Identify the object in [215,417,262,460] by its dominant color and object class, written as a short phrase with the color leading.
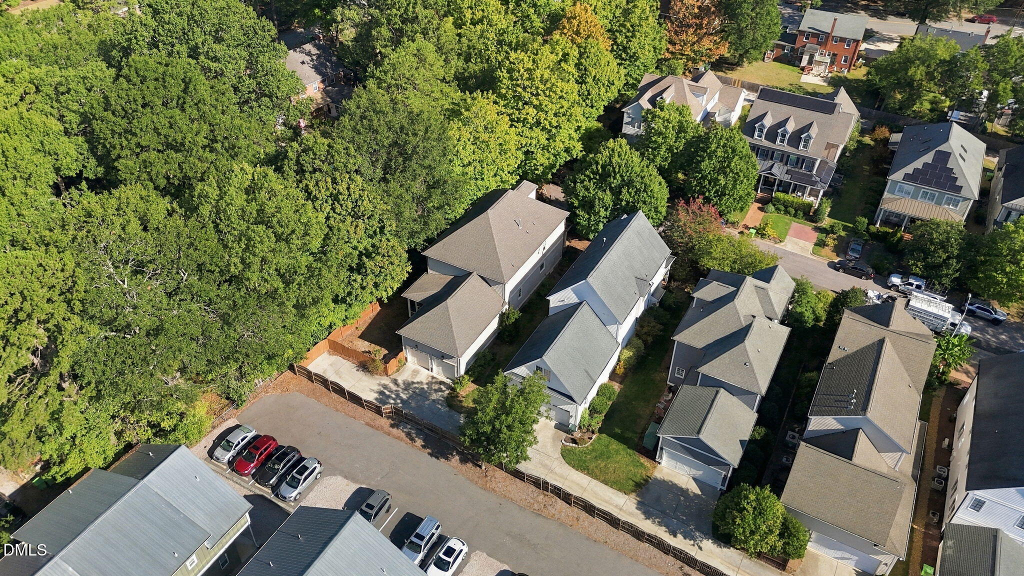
gray car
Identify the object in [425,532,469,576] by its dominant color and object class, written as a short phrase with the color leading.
white car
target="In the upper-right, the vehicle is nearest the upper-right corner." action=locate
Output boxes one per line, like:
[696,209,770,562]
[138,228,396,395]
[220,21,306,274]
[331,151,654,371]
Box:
[972,12,1001,24]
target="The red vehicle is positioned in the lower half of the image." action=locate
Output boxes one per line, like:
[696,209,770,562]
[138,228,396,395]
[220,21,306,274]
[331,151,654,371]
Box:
[237,427,283,473]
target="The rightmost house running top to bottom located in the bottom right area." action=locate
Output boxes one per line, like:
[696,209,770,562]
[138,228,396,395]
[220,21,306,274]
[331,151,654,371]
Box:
[932,355,1024,576]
